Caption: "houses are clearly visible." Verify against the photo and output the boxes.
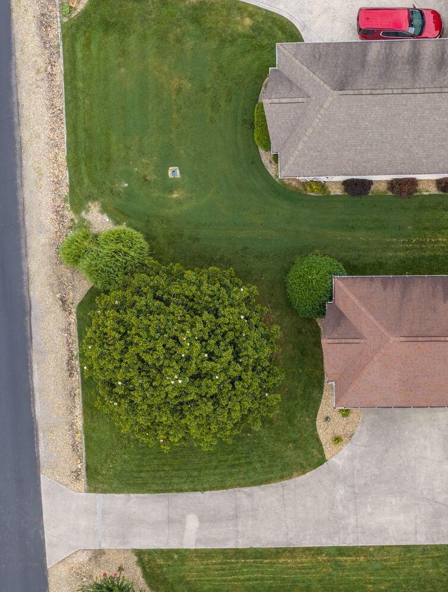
[263,40,448,185]
[321,272,448,409]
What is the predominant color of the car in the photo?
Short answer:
red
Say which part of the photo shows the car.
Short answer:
top right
